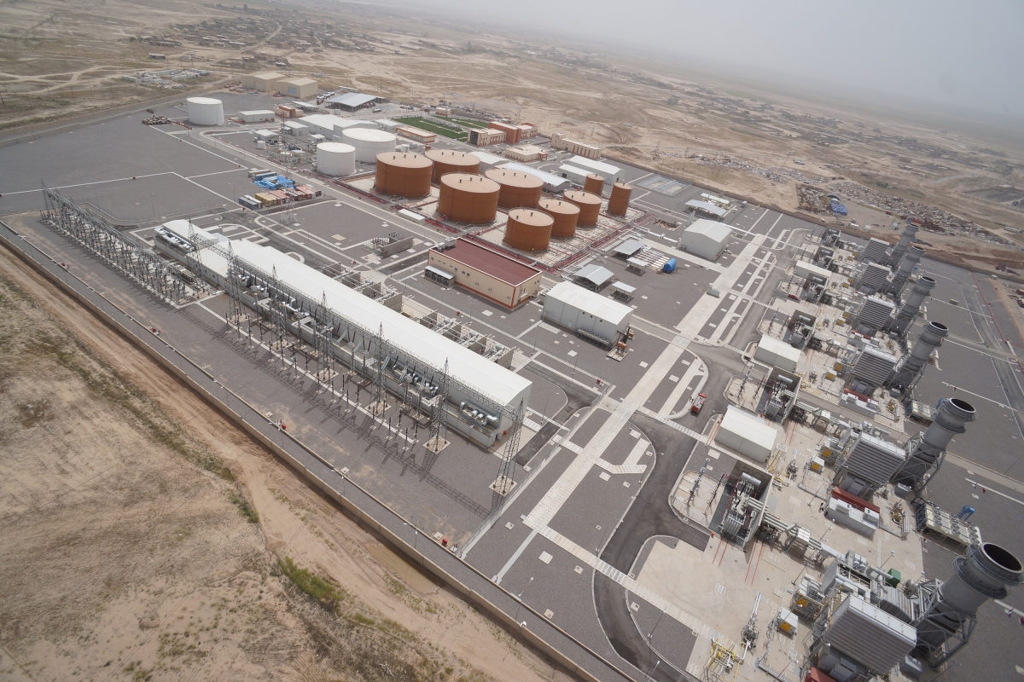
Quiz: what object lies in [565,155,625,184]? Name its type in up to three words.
shed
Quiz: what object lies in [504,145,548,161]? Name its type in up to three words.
building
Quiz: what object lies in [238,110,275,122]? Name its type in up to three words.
shed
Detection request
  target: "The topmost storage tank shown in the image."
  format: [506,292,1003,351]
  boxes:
[184,96,226,124]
